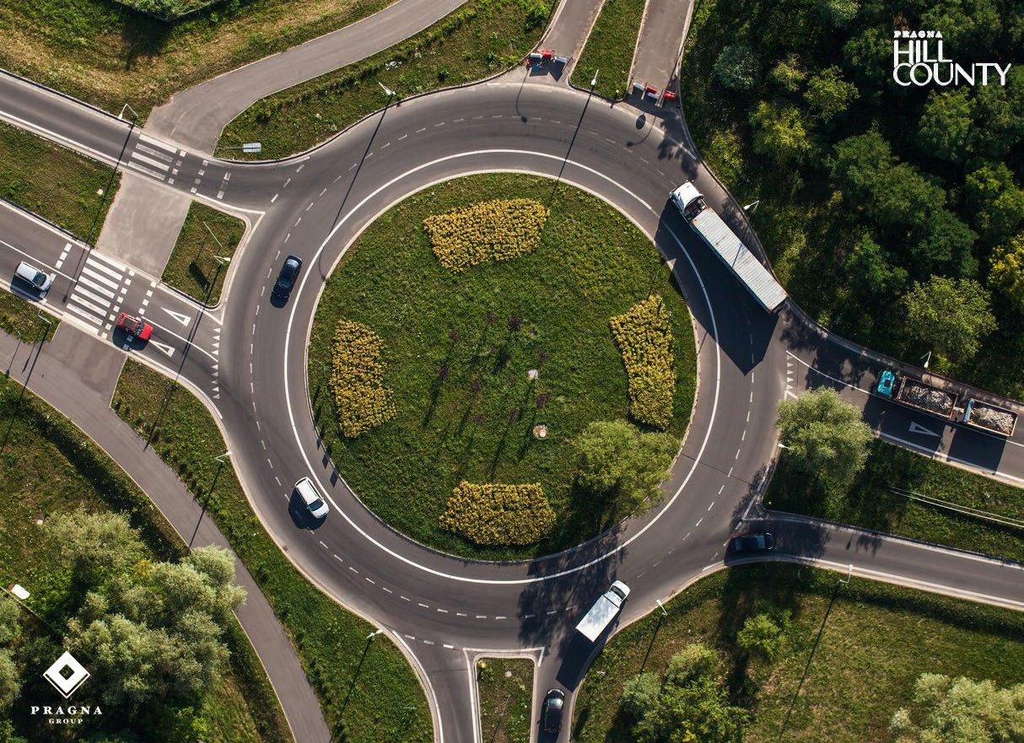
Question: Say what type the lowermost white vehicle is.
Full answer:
It turns out the lowermost white vehicle is a truck.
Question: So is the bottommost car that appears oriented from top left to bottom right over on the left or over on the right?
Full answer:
The bottommost car that appears oriented from top left to bottom right appears in the left half of the scene.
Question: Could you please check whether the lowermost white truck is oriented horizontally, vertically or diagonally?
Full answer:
The lowermost white truck runs diagonally in the image.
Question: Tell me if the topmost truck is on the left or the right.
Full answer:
The topmost truck is on the right side of the image.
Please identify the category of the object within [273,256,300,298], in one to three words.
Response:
car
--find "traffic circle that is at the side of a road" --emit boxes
[220,85,787,650]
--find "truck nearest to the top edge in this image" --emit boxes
[667,182,706,224]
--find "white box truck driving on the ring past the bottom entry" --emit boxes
[573,583,626,643]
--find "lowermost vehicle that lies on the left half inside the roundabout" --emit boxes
[294,476,328,518]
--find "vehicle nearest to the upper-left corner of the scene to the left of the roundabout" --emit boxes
[13,261,52,289]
